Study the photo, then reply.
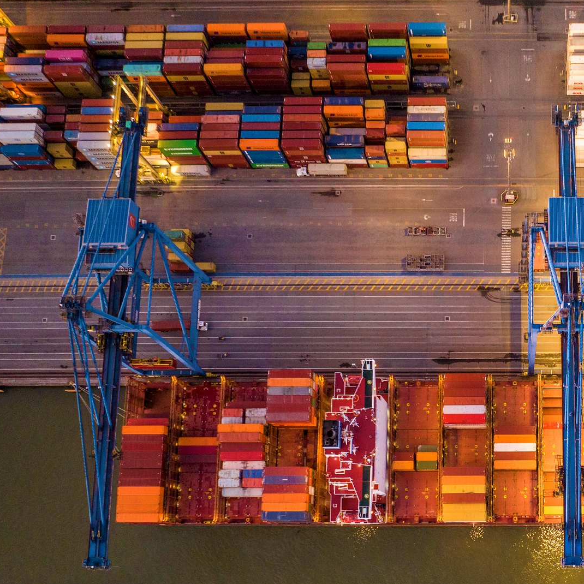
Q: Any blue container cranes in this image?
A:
Yes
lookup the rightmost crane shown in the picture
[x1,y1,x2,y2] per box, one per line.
[511,106,584,572]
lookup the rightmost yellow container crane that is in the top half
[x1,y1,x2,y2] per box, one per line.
[106,74,175,183]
